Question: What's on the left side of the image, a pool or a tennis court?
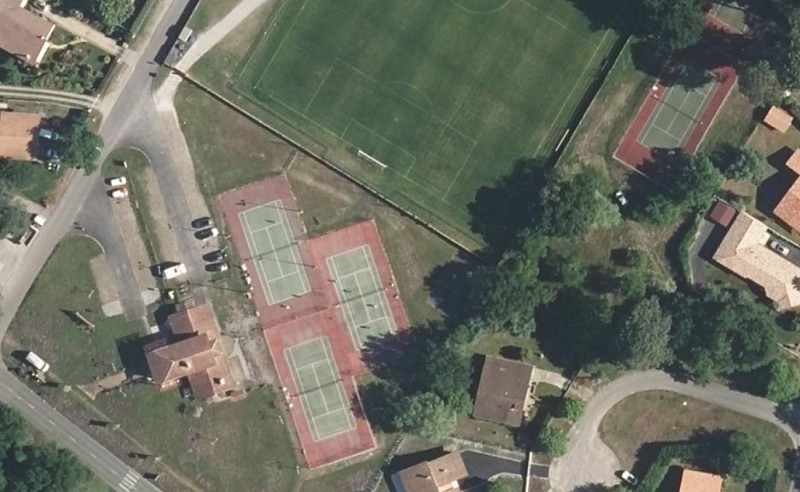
tennis court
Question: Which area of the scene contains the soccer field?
top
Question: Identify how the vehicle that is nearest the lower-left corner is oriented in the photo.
on a diagonal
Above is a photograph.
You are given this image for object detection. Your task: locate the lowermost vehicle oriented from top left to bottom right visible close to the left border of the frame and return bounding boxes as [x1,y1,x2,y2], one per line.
[26,351,48,371]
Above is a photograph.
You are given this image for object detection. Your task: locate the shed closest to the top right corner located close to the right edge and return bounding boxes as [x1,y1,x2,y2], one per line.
[764,106,793,134]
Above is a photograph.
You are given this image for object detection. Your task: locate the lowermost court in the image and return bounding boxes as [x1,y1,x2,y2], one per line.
[263,312,377,469]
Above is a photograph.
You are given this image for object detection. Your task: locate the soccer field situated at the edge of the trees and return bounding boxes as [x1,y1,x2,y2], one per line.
[236,0,628,237]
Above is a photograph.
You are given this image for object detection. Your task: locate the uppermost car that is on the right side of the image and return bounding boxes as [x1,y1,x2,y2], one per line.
[613,189,630,205]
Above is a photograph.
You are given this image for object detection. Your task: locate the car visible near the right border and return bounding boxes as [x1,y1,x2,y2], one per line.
[772,243,790,257]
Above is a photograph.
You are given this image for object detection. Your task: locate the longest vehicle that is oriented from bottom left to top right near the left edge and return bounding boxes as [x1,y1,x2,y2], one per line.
[21,216,45,244]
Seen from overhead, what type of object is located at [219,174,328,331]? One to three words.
tennis court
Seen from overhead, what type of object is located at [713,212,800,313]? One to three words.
house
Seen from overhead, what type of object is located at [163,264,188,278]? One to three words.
vehicle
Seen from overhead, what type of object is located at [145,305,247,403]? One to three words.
building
